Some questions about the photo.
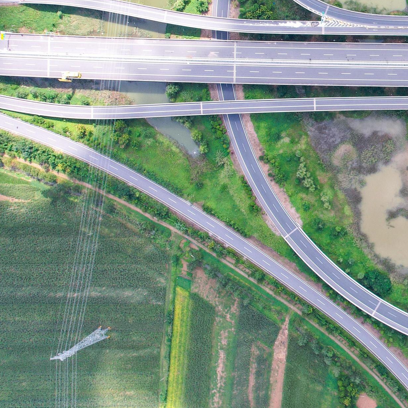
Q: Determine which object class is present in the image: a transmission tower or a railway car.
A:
transmission tower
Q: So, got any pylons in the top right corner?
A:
No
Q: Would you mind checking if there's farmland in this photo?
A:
Yes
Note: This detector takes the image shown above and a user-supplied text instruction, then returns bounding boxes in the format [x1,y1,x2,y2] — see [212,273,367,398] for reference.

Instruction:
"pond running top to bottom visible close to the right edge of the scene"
[349,115,408,269]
